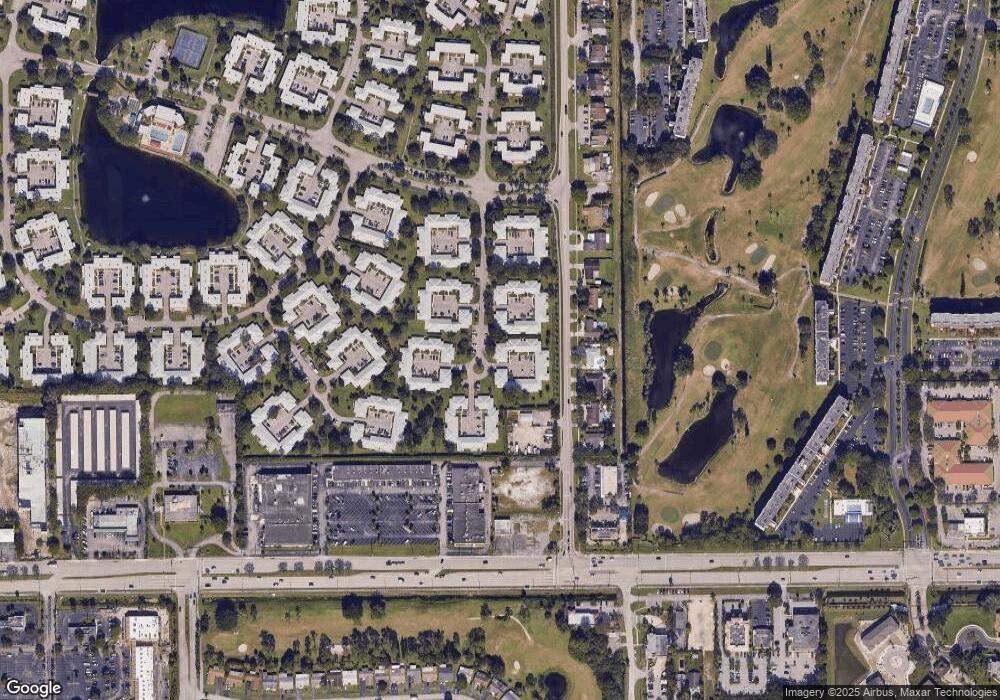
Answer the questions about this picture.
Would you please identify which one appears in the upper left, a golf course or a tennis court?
tennis court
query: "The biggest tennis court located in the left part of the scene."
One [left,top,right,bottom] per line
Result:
[170,26,207,69]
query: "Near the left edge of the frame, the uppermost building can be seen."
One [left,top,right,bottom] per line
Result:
[27,0,87,36]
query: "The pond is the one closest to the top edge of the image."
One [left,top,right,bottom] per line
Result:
[716,0,782,79]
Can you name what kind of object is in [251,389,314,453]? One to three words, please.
building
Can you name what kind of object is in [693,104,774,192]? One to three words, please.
pond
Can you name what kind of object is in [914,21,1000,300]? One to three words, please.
golf course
